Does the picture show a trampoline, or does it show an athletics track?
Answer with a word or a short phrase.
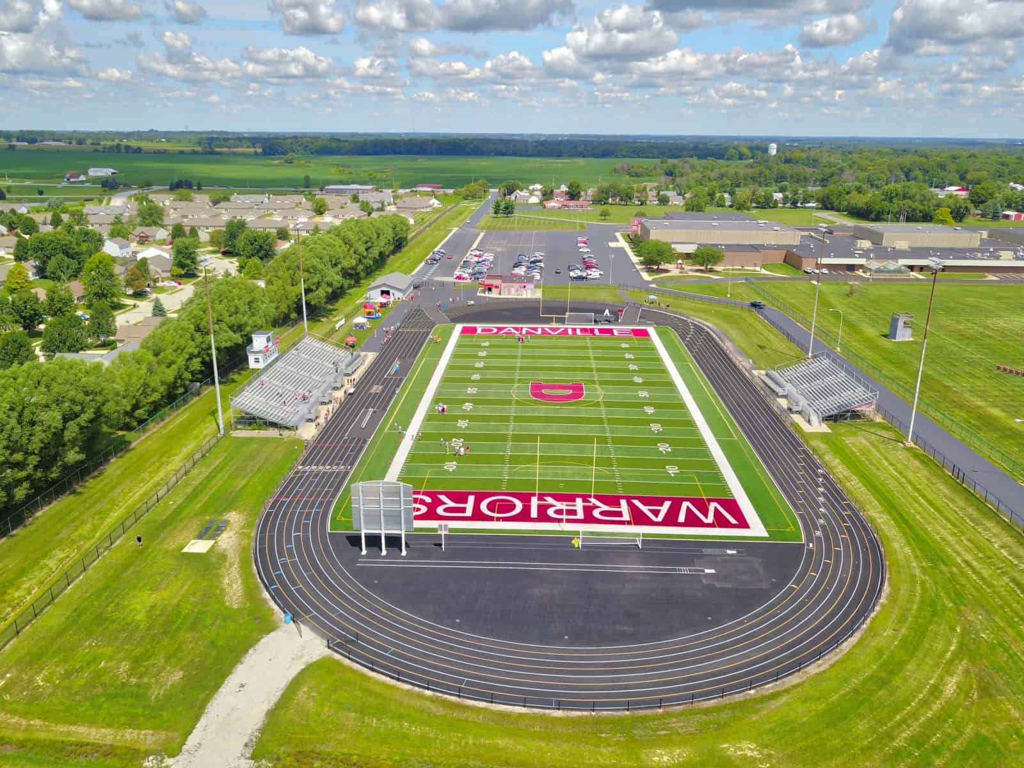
athletics track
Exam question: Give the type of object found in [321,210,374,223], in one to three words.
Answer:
house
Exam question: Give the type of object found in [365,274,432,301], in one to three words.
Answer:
building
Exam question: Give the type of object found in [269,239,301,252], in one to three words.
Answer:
house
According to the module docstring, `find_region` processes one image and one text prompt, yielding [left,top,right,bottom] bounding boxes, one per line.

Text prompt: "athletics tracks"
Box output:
[253,300,887,711]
